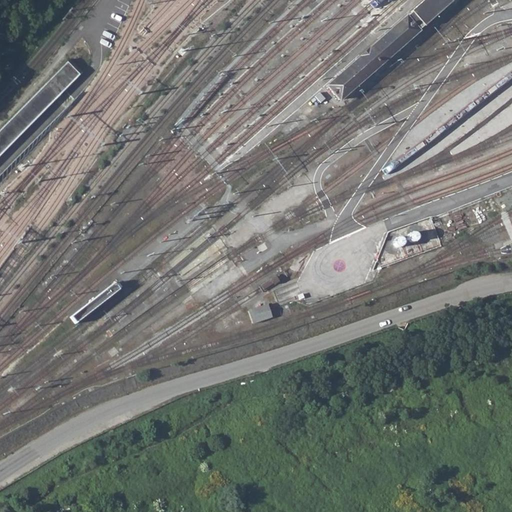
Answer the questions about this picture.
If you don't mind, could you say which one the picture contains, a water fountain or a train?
train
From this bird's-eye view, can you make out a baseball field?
No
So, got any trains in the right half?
Yes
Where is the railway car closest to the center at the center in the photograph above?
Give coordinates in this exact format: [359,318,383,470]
[262,276,282,291]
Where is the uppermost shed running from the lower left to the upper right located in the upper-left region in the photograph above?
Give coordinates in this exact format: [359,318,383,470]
[0,62,84,158]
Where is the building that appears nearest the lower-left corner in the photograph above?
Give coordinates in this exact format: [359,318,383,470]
[70,278,126,324]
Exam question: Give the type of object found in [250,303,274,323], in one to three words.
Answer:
shed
